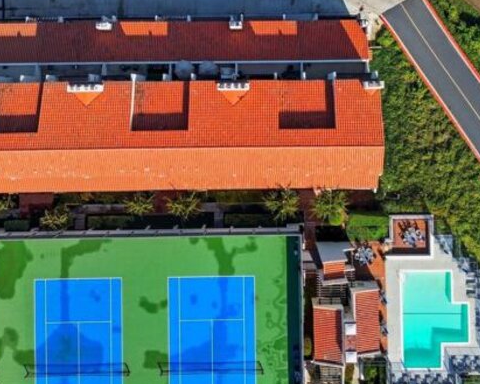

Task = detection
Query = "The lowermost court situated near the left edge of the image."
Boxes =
[0,240,145,384]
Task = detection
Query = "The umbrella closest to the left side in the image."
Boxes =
[173,63,195,80]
